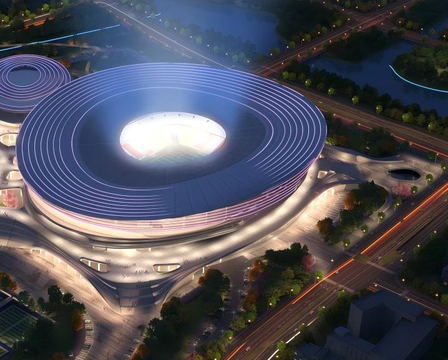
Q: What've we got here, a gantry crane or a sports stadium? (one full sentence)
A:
There is a sports stadium in the scene.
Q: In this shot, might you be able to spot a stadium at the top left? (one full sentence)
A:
Yes, looking at the top left, one can make out a stadium.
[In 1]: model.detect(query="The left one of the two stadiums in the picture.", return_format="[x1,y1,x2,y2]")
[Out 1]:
[0,54,70,124]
